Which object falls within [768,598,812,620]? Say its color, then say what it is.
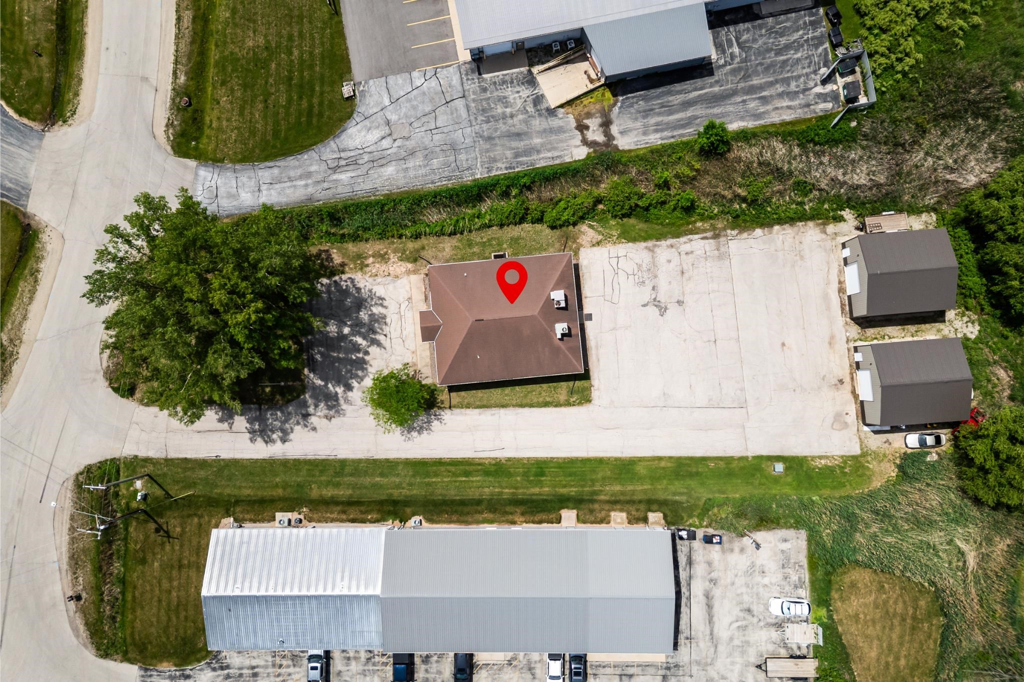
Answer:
white car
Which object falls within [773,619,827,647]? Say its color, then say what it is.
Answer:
white trailer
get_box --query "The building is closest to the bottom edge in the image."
[201,525,676,654]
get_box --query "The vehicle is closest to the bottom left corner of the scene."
[305,652,327,682]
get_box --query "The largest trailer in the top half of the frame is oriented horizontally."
[855,210,909,234]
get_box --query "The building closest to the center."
[420,251,584,387]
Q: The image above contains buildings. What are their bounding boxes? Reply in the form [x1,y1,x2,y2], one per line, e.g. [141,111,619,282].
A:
[454,0,766,84]
[201,525,676,654]
[420,251,584,387]
[843,228,959,318]
[854,337,973,425]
